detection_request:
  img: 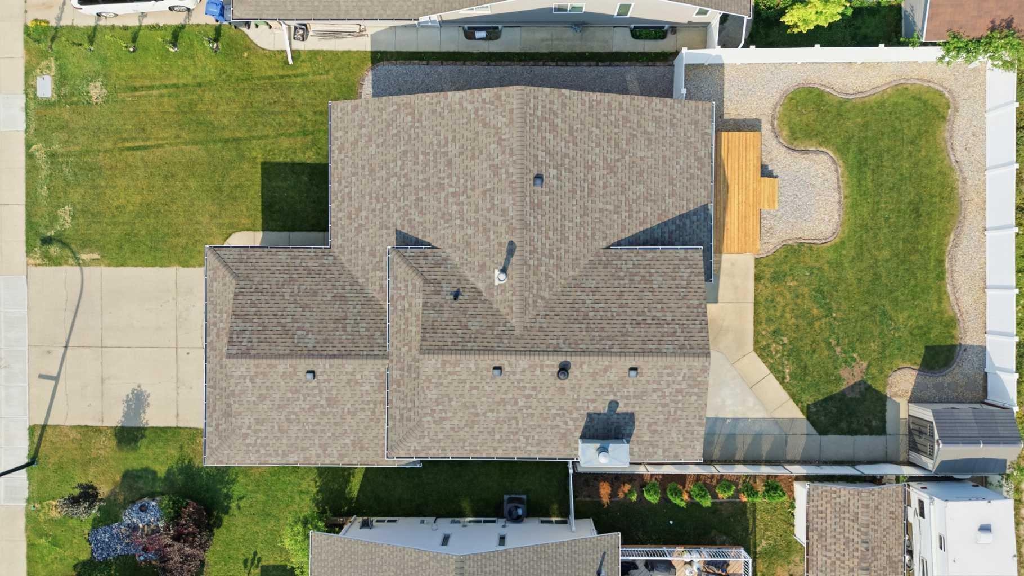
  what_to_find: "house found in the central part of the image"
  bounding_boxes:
[205,83,713,467]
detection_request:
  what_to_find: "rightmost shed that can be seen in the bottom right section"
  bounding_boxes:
[909,404,1023,472]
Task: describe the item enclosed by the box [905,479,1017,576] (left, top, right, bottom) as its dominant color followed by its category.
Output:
white trailer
